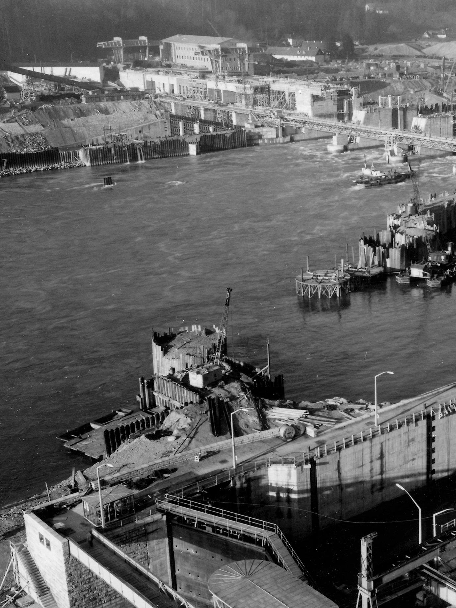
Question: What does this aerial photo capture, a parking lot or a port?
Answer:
port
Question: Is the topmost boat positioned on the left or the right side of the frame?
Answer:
right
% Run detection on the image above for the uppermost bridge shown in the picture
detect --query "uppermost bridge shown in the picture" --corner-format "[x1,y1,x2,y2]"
[172,97,456,154]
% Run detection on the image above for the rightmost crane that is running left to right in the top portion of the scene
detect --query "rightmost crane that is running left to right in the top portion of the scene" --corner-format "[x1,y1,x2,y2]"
[188,41,259,74]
